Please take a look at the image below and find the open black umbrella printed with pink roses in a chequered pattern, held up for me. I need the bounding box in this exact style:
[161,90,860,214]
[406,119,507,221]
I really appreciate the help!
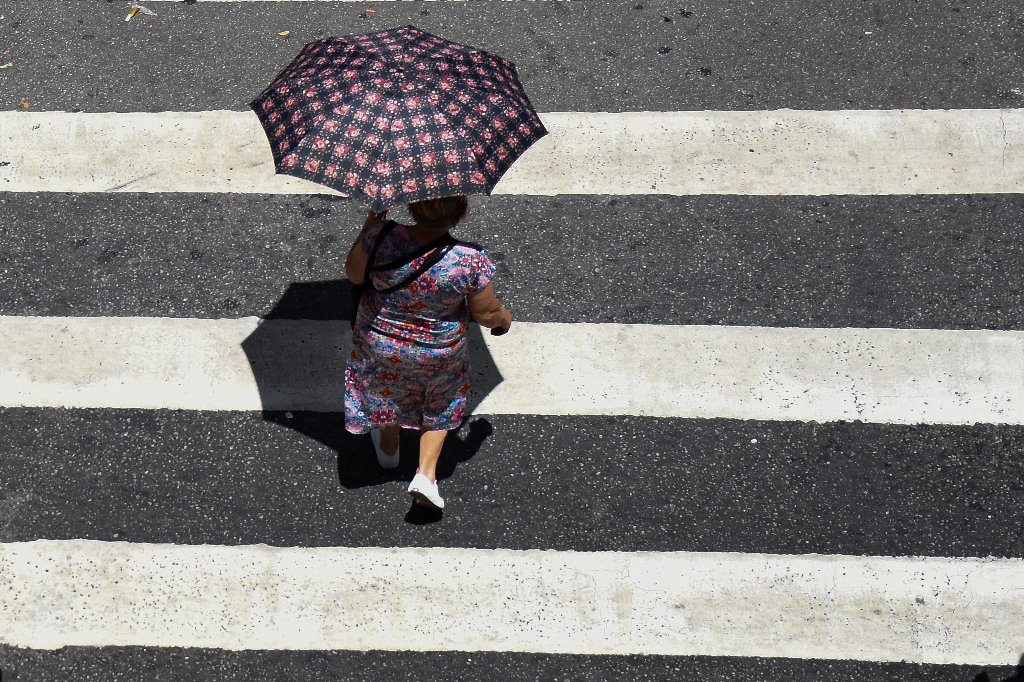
[243,25,551,217]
